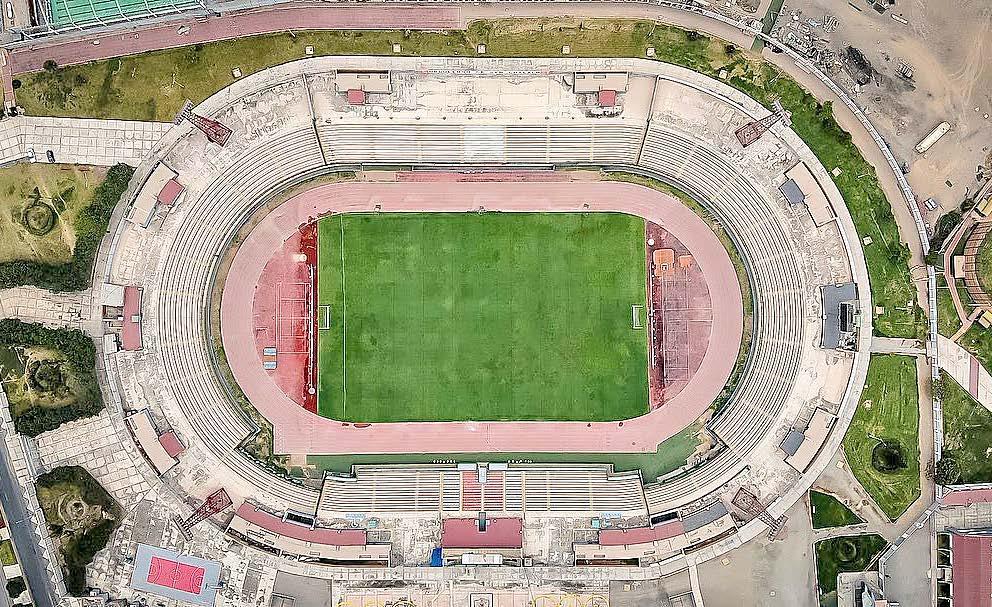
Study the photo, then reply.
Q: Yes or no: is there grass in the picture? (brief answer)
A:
Yes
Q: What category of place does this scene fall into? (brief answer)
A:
sports ground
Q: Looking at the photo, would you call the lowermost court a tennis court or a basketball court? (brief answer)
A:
basketball court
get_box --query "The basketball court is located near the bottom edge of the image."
[132,544,222,606]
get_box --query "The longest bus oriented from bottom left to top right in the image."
[911,123,949,153]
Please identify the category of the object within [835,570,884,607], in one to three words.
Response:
building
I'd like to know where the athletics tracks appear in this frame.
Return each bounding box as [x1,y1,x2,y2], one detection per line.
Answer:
[224,182,742,455]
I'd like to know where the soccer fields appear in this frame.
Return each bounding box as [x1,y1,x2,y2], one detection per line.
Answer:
[317,212,650,421]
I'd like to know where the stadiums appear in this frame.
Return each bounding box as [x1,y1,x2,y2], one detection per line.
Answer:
[90,55,874,584]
